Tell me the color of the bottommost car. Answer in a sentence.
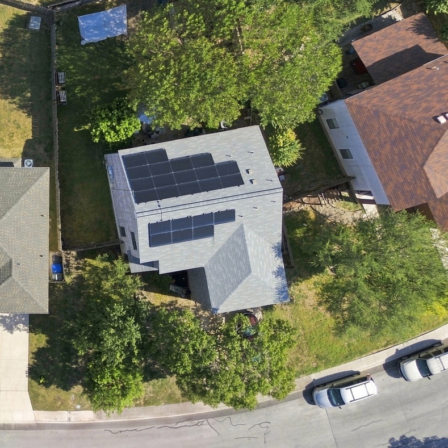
The color of the bottommost car is white.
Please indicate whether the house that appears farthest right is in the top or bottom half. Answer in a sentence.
The house that appears farthest right is in the top half of the image.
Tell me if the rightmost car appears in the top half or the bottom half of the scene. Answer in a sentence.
Seen from above, the rightmost car lies in the bottom half of the view.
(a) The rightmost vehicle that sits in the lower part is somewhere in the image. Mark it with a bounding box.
[396,338,448,377]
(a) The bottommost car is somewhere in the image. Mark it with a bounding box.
[314,374,376,409]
